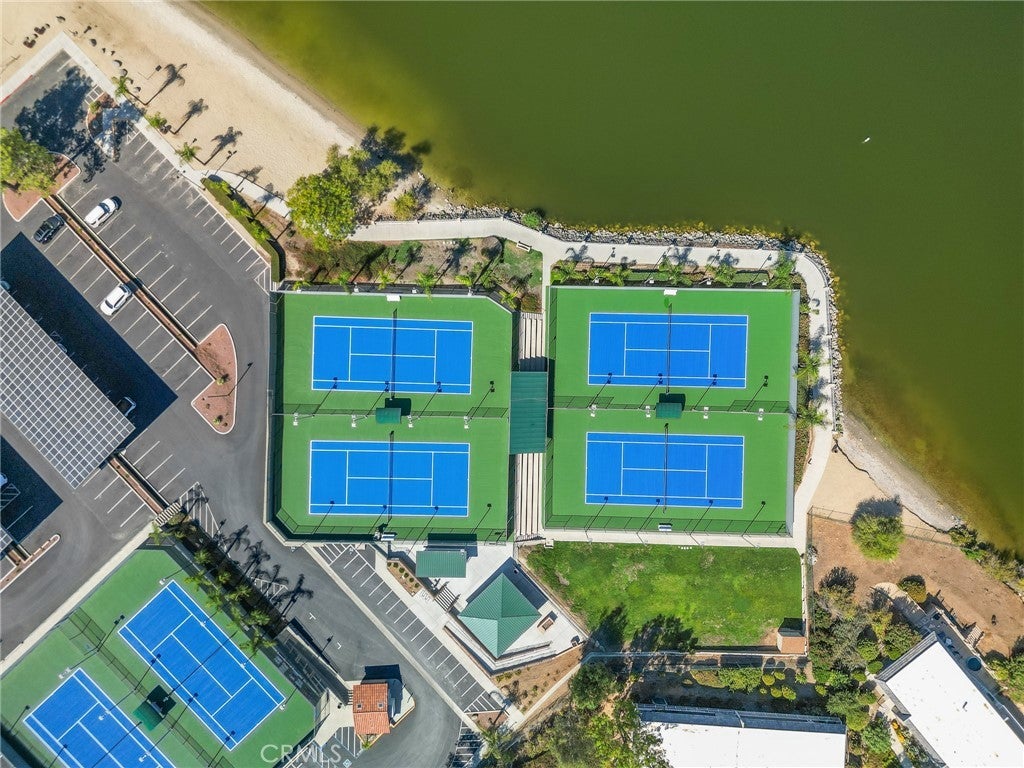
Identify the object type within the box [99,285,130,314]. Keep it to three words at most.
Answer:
car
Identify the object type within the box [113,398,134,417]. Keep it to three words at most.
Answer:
vehicle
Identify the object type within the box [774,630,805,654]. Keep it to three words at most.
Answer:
shed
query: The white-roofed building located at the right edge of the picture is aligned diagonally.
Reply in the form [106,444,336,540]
[873,631,1024,768]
